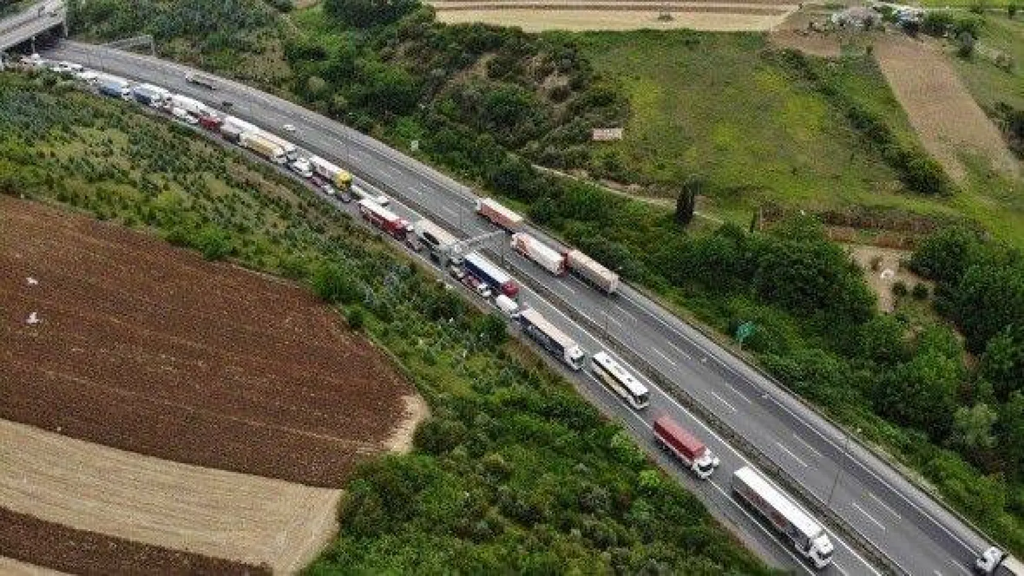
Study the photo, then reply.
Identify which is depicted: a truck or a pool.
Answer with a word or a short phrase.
truck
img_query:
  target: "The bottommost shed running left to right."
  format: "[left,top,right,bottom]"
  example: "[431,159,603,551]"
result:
[594,127,622,141]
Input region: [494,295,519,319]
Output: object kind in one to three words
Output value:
vehicle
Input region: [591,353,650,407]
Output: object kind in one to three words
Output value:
bus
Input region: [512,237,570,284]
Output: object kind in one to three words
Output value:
truck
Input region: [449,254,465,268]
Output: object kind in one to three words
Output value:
car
